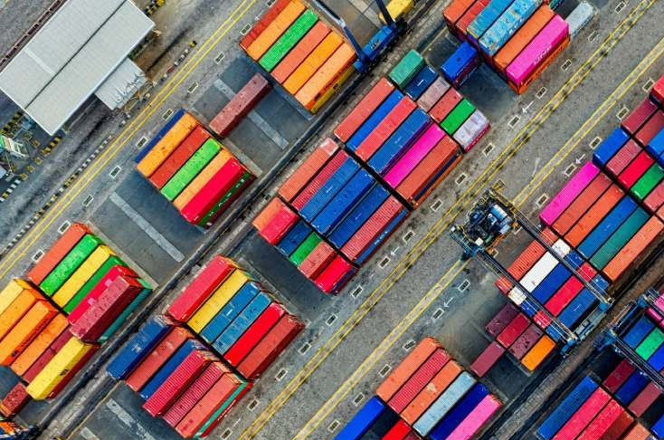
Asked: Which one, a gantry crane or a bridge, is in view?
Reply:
gantry crane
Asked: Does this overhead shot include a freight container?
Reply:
Yes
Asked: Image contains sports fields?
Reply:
No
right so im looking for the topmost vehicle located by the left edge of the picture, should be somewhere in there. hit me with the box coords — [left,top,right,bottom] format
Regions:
[0,137,25,164]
